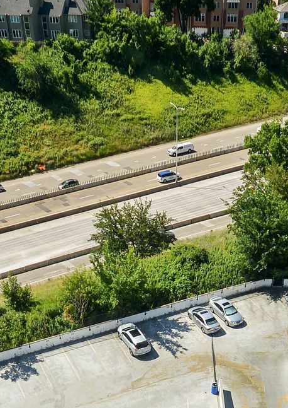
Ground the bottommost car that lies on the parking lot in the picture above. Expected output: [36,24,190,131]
[118,323,152,357]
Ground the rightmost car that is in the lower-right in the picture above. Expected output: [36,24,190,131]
[209,296,242,328]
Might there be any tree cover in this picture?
Yes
